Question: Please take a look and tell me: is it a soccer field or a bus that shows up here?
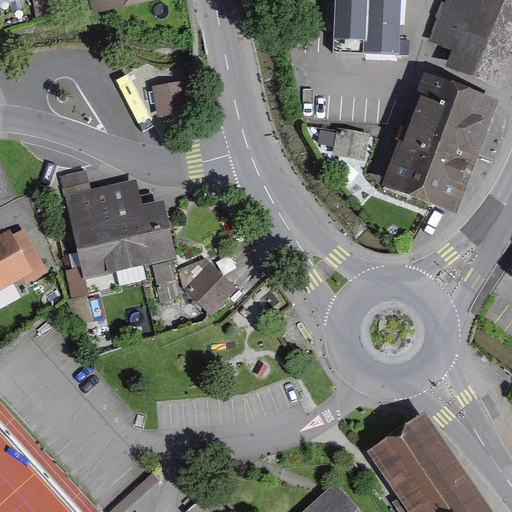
bus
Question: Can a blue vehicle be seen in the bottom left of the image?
Yes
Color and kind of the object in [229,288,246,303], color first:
white camper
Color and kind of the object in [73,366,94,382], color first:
blue car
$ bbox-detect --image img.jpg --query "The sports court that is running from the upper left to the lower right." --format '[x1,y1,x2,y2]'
[0,434,71,512]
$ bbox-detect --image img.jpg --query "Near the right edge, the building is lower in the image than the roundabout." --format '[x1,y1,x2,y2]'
[368,412,494,512]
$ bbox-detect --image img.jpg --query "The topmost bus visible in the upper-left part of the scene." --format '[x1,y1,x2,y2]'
[116,74,155,134]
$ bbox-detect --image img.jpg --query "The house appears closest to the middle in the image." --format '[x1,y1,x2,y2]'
[178,256,236,316]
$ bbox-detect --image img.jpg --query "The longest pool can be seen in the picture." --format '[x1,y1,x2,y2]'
[88,295,105,321]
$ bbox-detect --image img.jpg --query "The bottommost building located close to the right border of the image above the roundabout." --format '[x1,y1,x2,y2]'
[384,72,498,212]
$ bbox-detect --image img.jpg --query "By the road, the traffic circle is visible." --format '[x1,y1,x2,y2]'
[326,266,460,398]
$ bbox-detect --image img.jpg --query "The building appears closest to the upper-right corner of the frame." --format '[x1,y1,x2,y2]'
[430,0,505,75]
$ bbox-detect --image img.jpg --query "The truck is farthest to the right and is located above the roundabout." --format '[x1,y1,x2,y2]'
[423,208,444,237]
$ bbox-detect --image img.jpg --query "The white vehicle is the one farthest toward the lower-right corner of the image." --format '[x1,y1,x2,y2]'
[284,380,299,402]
